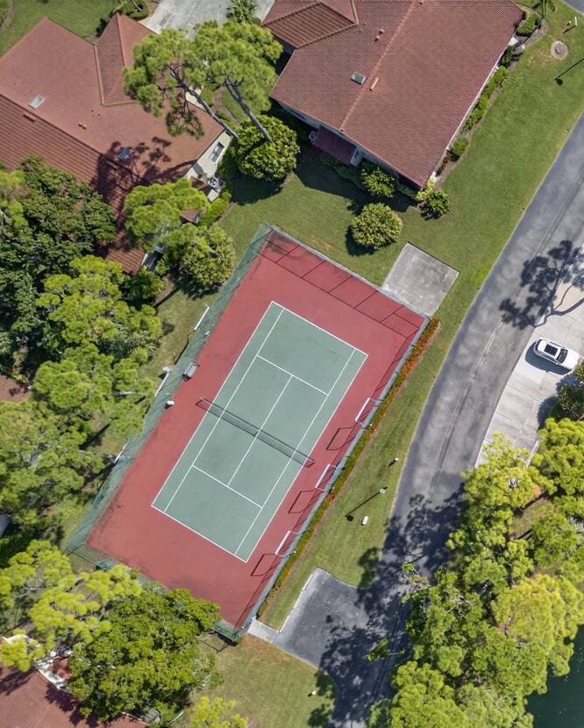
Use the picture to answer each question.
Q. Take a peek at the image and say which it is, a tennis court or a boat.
tennis court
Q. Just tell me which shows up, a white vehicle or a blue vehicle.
white vehicle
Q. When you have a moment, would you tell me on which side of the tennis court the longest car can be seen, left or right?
right of it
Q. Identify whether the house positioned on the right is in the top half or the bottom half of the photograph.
top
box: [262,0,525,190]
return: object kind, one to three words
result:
house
